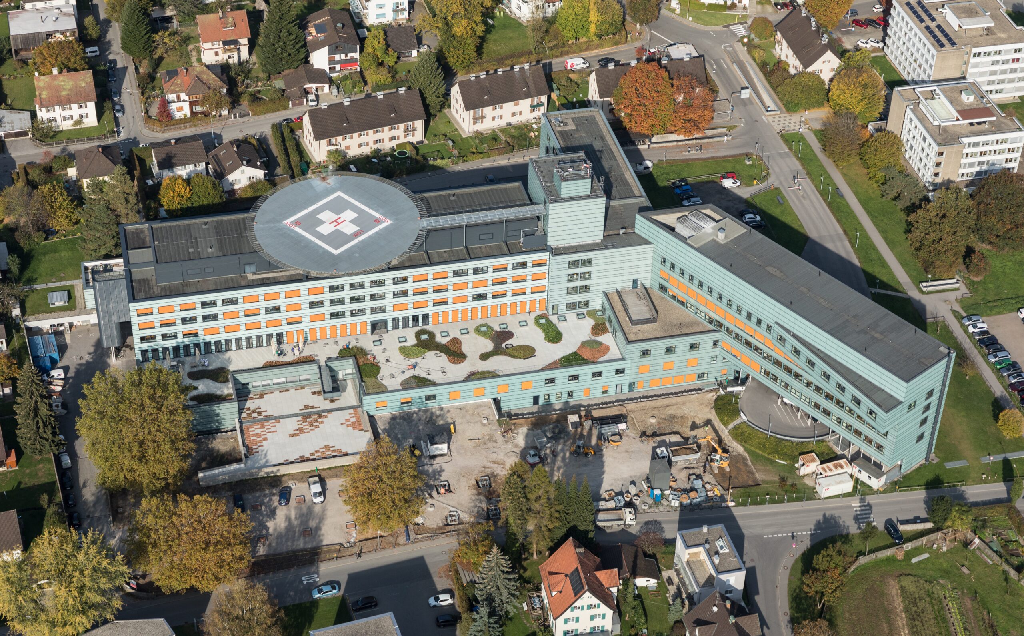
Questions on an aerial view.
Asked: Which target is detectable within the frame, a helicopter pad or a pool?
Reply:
helicopter pad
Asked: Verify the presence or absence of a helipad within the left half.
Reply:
Yes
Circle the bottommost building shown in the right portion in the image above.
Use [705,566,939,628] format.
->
[682,594,755,636]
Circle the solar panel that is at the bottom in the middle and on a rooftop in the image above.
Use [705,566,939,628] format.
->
[563,570,581,600]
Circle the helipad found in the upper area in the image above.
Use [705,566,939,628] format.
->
[244,171,430,282]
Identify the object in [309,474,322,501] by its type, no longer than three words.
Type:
vehicle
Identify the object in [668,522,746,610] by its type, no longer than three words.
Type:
house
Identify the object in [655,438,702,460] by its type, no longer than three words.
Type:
truck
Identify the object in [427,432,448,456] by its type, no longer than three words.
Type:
shed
